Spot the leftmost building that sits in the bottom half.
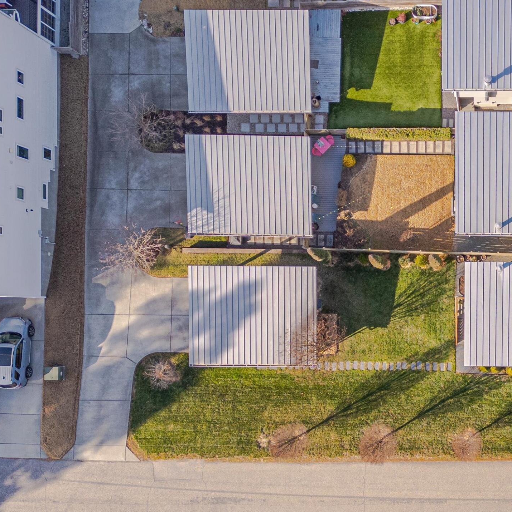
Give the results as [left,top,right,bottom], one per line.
[186,265,319,369]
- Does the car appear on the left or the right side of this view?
left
